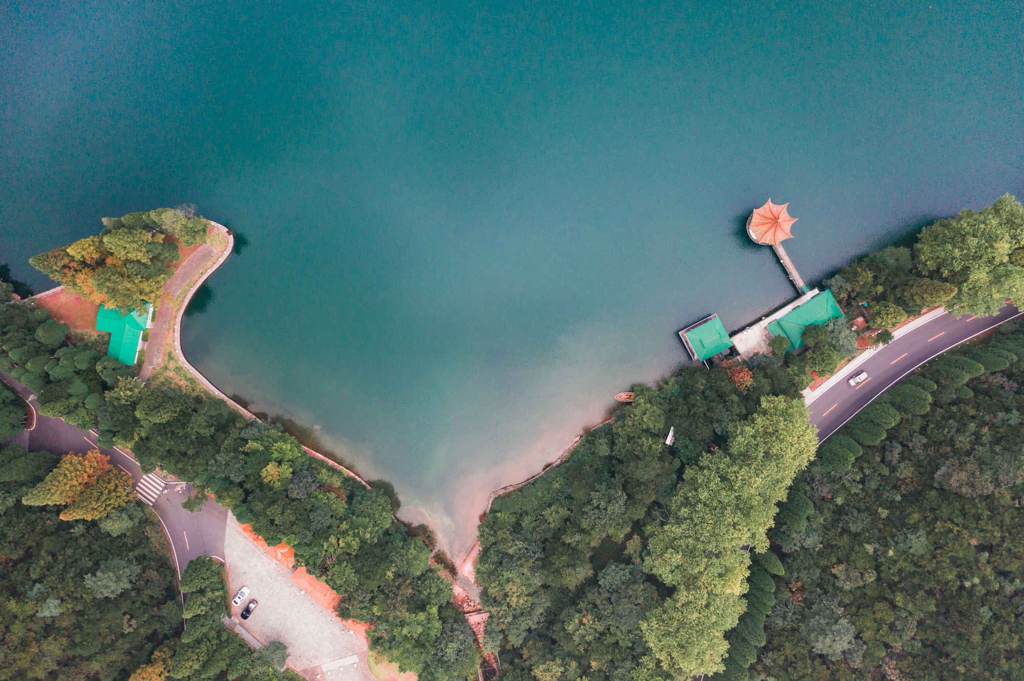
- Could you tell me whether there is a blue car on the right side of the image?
No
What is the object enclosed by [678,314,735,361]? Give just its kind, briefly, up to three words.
building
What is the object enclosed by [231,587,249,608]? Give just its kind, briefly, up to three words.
car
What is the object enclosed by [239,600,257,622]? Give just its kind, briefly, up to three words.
car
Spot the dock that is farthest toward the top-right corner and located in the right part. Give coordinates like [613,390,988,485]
[772,242,808,289]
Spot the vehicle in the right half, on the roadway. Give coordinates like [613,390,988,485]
[849,371,871,387]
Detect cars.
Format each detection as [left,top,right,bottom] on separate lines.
[239,600,257,622]
[231,587,249,608]
[849,371,871,387]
